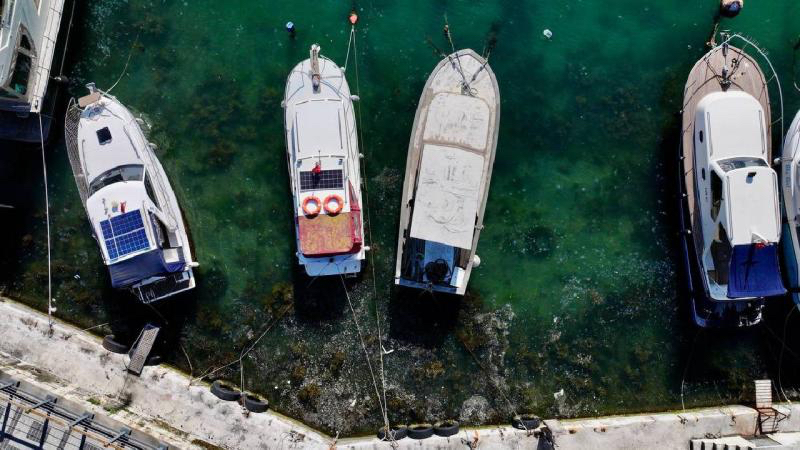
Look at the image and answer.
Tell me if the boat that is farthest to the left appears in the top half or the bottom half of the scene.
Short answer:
top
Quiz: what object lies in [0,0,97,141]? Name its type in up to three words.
boat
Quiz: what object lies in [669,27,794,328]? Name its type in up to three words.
boat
